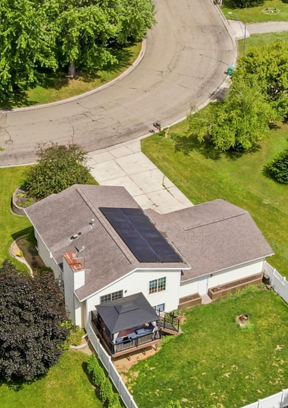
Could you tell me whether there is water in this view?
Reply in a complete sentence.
No, water can't be seen anywhere here.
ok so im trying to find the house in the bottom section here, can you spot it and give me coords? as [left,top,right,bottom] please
[24,182,276,348]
